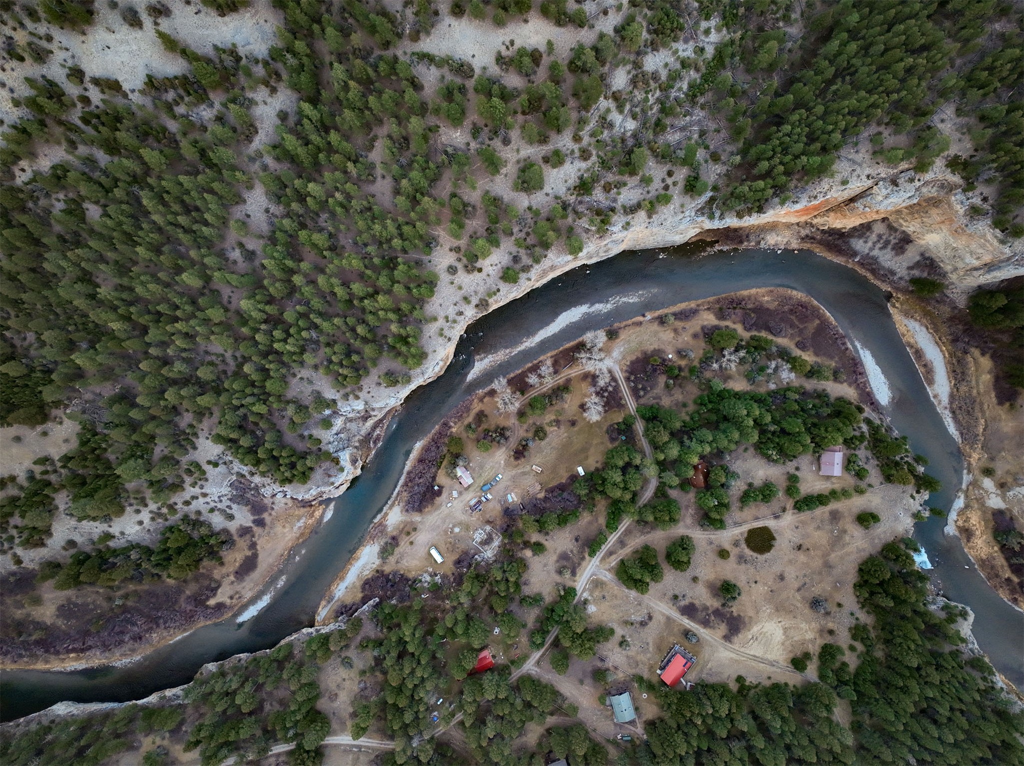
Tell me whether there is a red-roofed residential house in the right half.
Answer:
Yes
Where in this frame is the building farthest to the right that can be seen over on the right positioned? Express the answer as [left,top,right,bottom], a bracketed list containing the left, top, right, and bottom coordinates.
[819,446,842,476]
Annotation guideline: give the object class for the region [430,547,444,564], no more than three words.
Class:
vehicle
